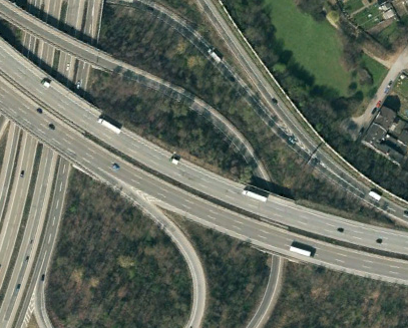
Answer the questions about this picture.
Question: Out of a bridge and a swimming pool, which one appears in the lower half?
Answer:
bridge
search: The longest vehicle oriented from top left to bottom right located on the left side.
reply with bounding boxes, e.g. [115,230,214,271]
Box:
[98,118,122,134]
